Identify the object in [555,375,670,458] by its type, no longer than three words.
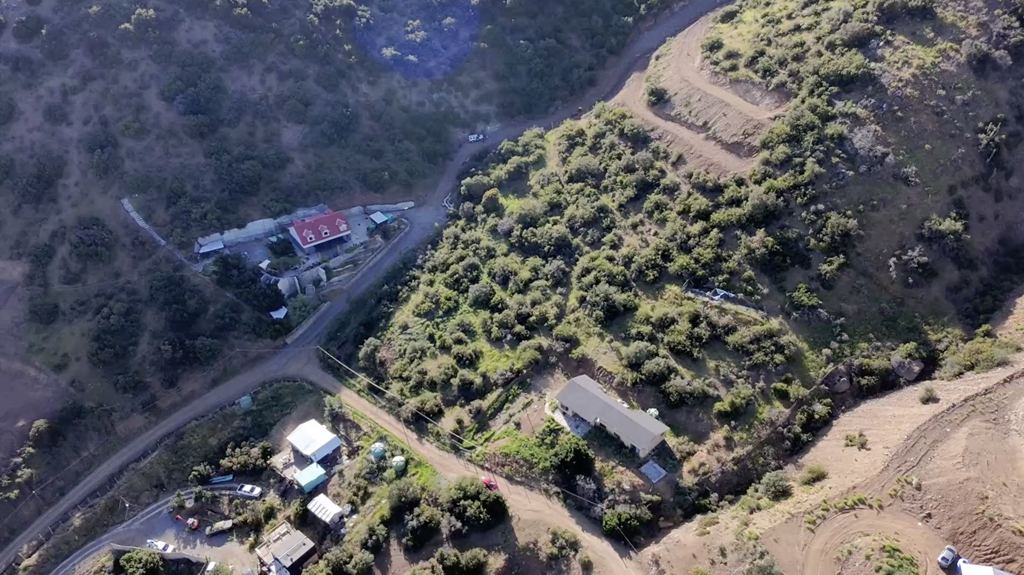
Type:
house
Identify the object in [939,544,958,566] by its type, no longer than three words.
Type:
car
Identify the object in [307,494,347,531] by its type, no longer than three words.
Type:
shed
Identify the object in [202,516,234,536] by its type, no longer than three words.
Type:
vehicle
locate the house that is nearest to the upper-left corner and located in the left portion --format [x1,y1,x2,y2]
[284,206,353,256]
